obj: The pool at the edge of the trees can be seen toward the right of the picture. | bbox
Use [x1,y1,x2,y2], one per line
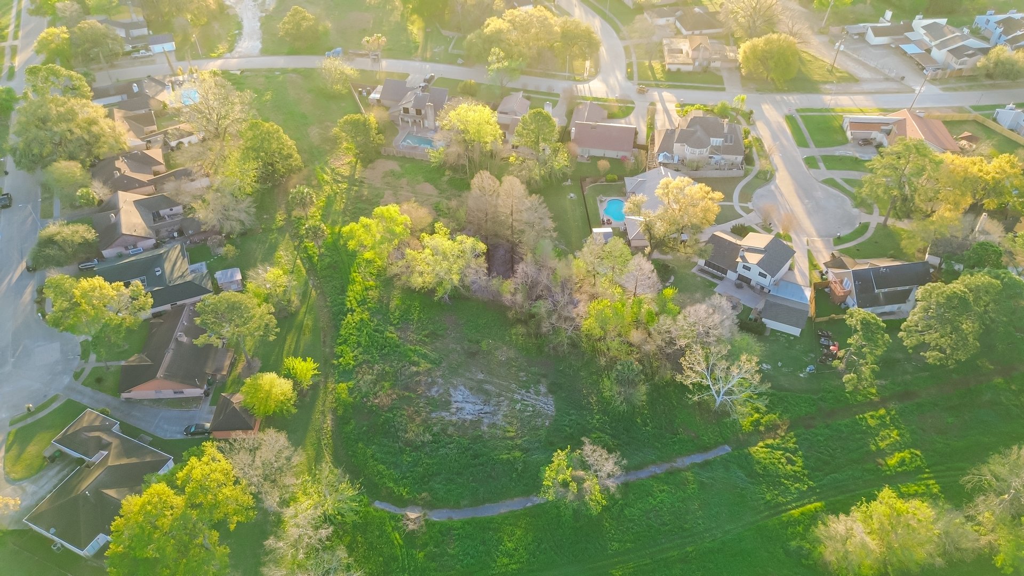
[603,198,626,222]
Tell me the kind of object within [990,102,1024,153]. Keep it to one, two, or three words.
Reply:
house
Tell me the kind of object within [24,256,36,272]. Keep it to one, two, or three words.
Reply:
vehicle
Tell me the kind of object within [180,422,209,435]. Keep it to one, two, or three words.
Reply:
vehicle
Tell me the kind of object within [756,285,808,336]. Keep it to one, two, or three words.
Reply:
building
